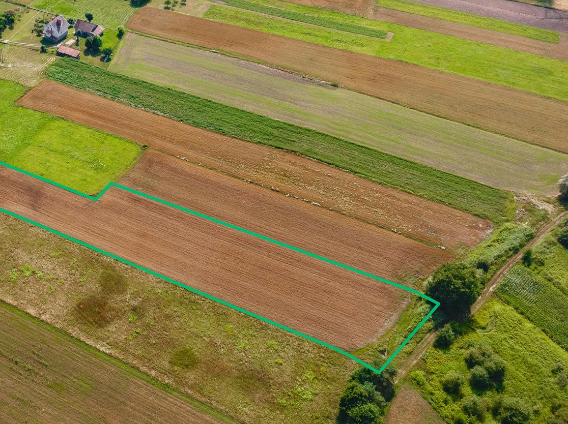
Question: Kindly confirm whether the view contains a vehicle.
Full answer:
No, there appears to be no vehicle in this shot.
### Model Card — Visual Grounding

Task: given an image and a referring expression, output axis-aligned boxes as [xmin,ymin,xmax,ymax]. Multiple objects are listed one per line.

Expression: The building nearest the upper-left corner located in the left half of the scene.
[42,15,71,42]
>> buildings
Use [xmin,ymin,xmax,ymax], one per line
[73,19,105,37]
[42,15,71,42]
[55,45,81,59]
